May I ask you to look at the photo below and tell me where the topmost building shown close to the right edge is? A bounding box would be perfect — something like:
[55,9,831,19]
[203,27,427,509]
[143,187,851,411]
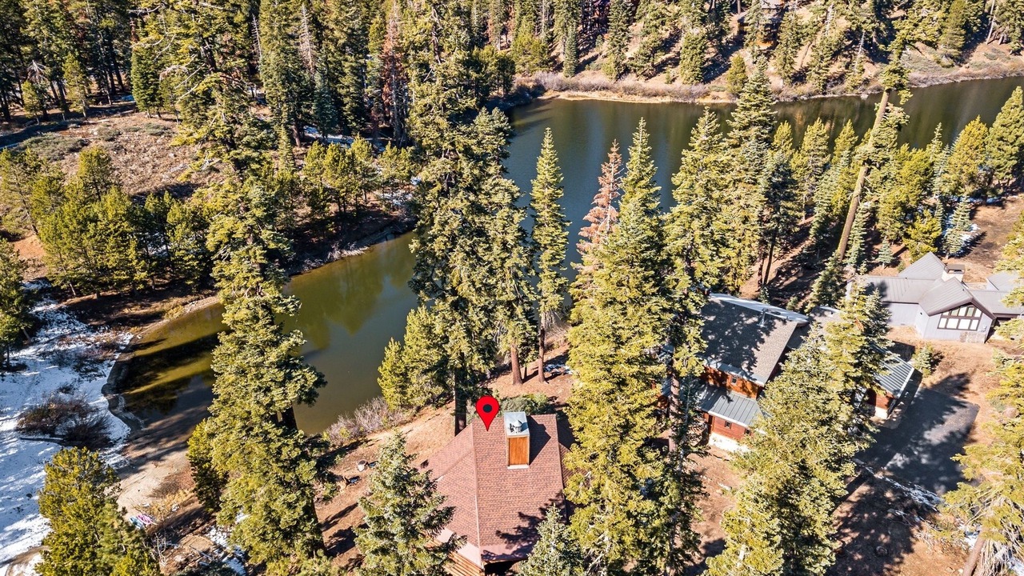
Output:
[849,248,1024,342]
